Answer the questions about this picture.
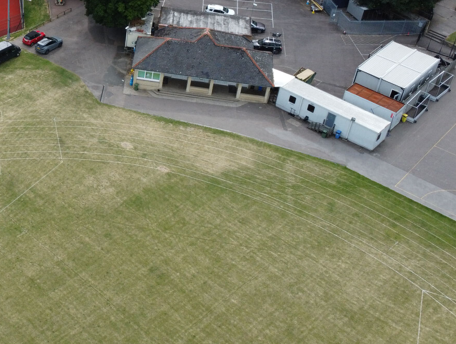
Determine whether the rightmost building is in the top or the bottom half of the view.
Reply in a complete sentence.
The top half of the photo is where the rightmost building is.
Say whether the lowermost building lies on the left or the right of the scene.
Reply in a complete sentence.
You can find the lowermost building on the right side of the picture.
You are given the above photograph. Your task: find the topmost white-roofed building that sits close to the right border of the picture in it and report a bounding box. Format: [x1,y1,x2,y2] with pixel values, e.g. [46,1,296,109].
[354,40,445,109]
